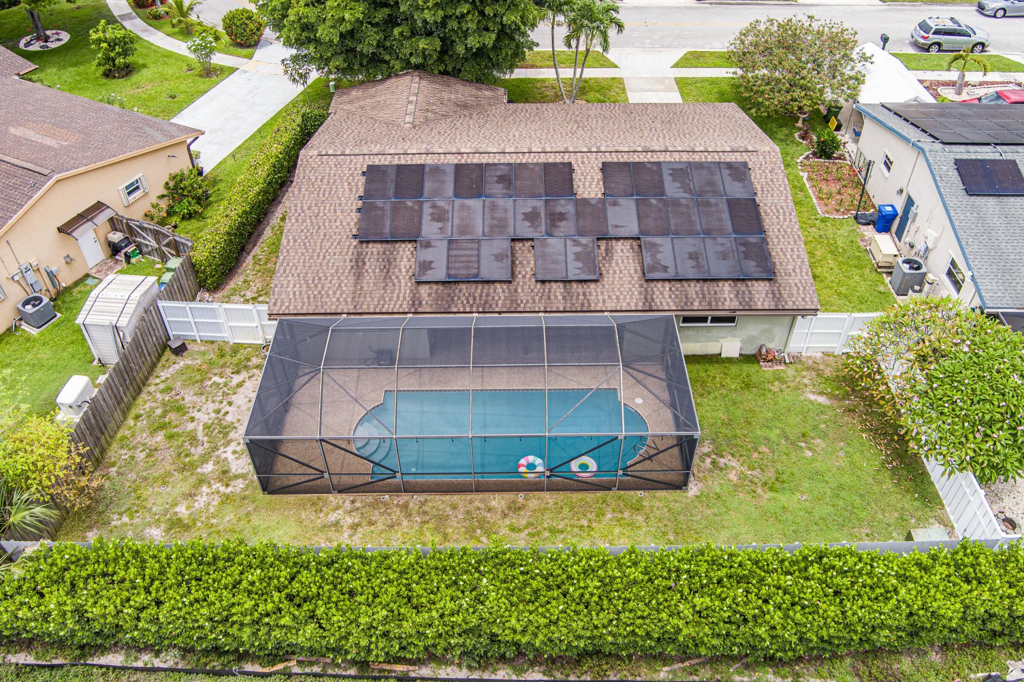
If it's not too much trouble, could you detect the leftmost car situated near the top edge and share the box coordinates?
[909,10,1000,50]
